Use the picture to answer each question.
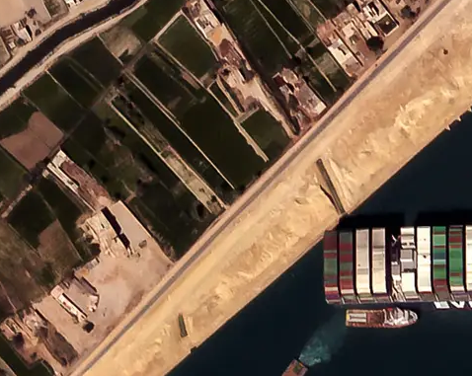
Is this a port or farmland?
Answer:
port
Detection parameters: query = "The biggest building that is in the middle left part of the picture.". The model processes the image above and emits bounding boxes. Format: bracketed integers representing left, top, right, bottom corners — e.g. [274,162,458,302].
[83,209,110,241]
